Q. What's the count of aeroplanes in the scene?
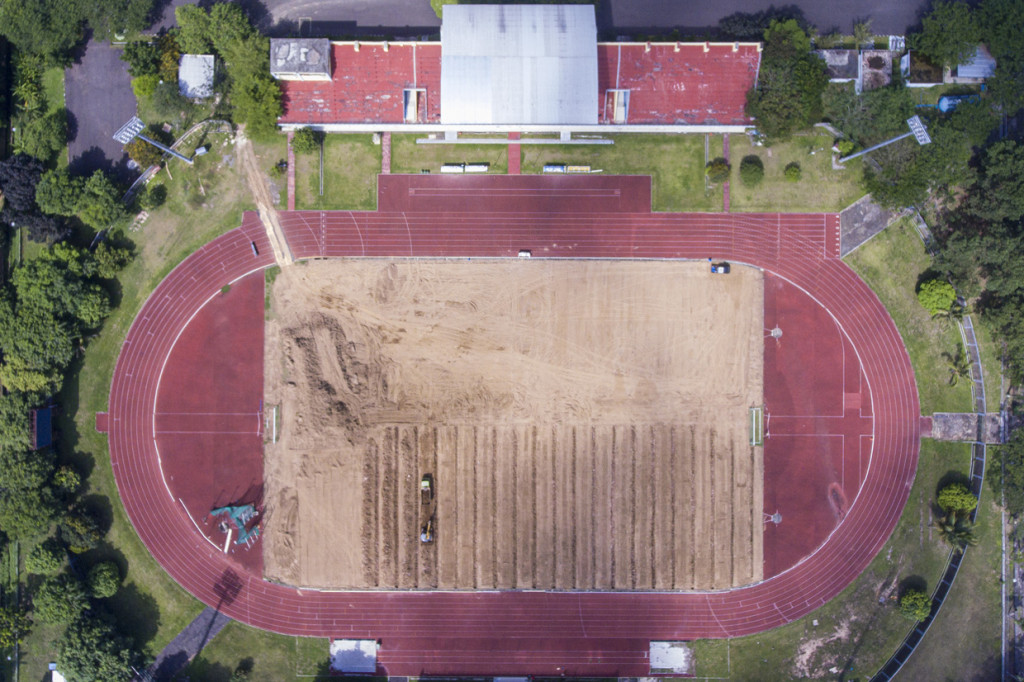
zero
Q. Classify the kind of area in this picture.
sports ground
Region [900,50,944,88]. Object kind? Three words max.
house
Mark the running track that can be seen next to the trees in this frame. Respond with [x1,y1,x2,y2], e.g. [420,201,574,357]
[96,174,932,639]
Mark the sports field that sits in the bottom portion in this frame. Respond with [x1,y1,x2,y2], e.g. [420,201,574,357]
[264,260,765,590]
